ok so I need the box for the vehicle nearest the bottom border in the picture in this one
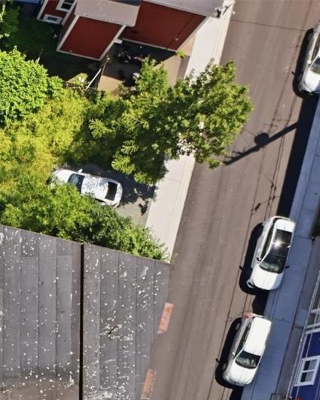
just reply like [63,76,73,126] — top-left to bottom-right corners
[220,309,275,391]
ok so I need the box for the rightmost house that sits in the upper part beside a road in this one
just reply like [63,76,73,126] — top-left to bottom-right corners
[116,0,234,56]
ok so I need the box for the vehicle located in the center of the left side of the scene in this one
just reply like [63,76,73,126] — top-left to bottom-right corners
[48,164,125,212]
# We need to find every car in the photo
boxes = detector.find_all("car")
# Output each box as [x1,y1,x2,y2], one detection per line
[48,164,125,212]
[244,214,300,294]
[292,16,320,101]
[220,309,275,391]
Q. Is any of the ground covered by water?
No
